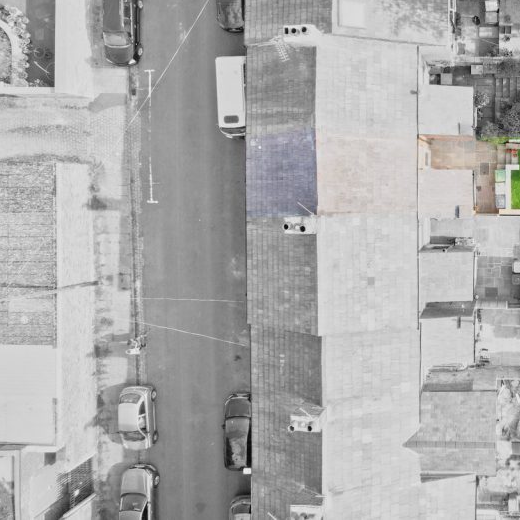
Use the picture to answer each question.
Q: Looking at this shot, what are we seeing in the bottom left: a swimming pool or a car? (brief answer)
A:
car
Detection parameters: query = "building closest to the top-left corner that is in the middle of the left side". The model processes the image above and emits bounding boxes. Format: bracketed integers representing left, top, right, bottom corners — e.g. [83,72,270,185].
[0,162,94,286]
